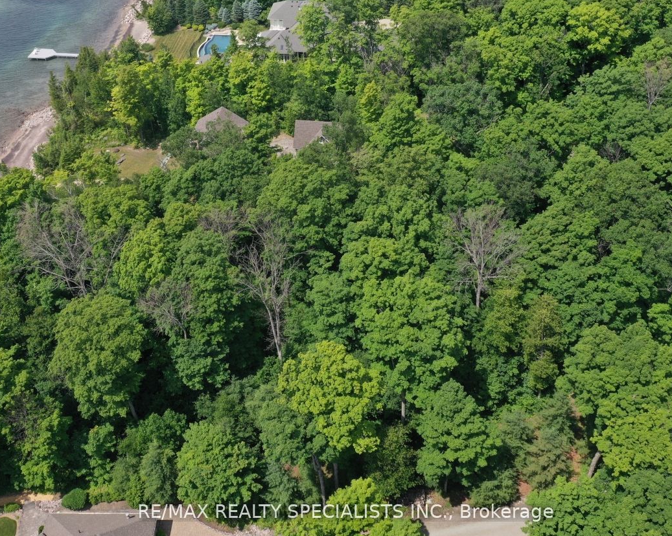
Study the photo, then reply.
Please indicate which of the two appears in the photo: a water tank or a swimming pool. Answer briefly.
swimming pool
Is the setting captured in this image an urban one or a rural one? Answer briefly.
rural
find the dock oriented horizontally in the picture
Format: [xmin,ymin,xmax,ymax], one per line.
[27,49,81,62]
